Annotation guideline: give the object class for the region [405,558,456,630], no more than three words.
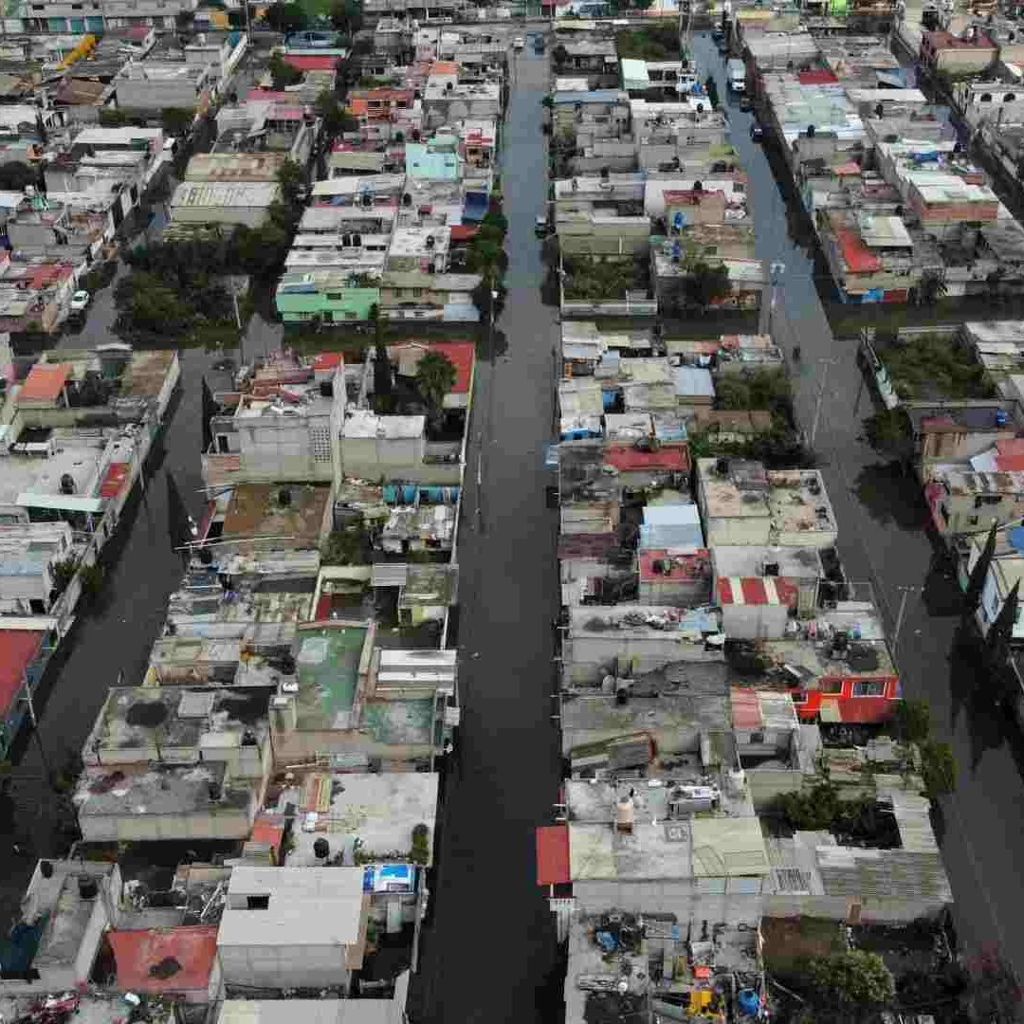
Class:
house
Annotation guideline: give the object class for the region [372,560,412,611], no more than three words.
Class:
shed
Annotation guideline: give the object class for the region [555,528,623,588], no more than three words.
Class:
shed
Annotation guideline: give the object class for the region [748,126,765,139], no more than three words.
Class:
vehicle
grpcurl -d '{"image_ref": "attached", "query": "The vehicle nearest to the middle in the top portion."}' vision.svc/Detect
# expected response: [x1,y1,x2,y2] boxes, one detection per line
[535,214,548,231]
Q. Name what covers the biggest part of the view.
buildings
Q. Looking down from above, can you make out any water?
Yes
